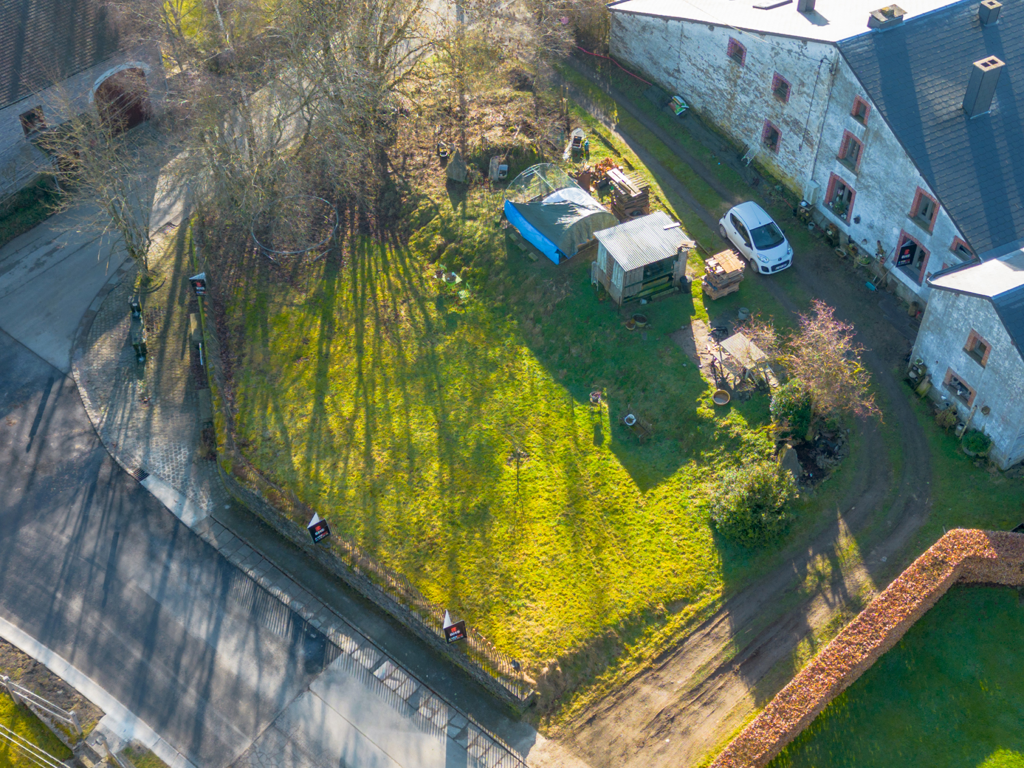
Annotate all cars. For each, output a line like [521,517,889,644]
[718,200,799,274]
